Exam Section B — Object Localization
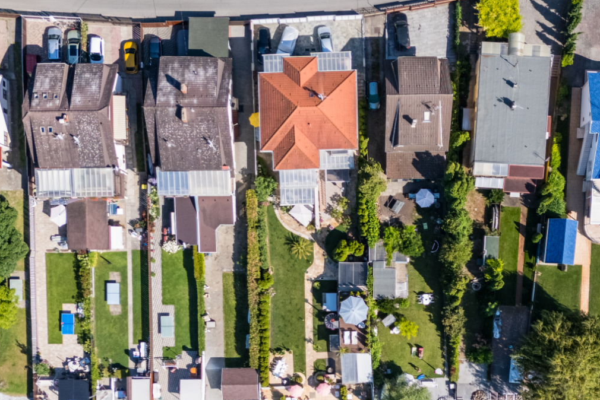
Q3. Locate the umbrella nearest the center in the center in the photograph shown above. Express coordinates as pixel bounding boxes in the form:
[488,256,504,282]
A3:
[289,205,316,228]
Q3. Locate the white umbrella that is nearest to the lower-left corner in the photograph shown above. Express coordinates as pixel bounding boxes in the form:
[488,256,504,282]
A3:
[37,372,56,391]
